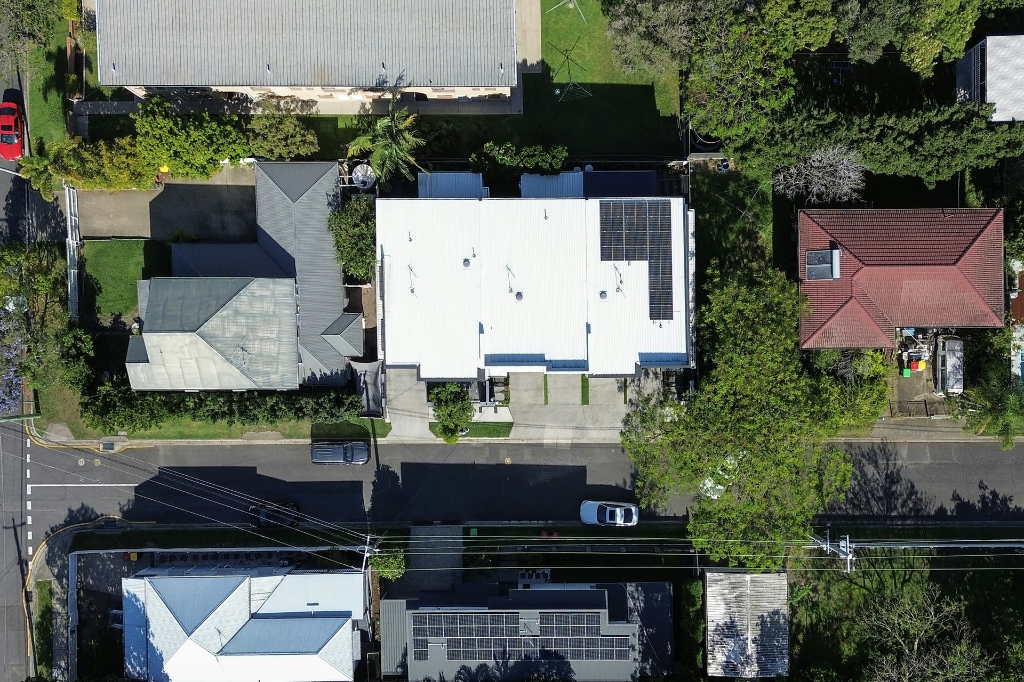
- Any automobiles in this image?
Yes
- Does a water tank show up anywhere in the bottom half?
No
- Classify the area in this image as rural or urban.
urban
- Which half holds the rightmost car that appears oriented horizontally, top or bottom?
bottom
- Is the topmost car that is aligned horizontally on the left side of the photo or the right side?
left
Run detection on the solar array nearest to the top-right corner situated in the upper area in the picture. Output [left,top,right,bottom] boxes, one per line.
[600,202,674,320]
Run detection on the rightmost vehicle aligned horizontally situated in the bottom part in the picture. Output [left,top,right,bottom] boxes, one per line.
[578,499,636,527]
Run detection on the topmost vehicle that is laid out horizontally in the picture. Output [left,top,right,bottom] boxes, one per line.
[309,439,370,468]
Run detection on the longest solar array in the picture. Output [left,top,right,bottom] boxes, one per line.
[412,615,630,660]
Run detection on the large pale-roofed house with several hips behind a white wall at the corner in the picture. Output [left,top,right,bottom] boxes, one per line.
[109,565,372,682]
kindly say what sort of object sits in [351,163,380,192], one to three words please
water tank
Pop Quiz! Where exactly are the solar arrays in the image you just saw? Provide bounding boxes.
[412,615,630,660]
[600,202,674,320]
